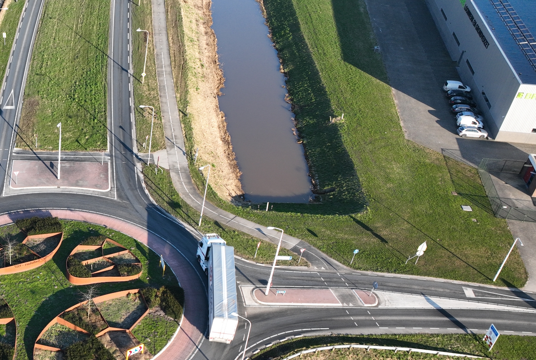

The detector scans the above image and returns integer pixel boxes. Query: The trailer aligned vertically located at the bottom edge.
[208,244,238,343]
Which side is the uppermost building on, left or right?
right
